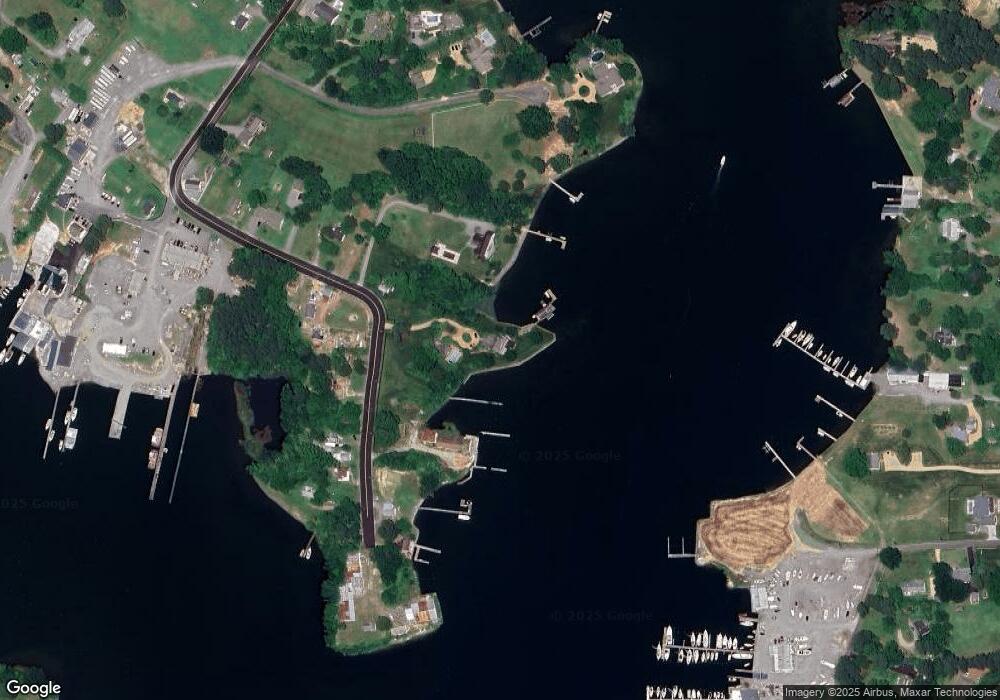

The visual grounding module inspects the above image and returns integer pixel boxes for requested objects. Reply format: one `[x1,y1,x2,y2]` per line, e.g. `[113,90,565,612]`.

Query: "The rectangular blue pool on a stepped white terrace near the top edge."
[421,11,442,27]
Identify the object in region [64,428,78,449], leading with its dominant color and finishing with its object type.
white boat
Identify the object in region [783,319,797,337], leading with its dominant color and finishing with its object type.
white boat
